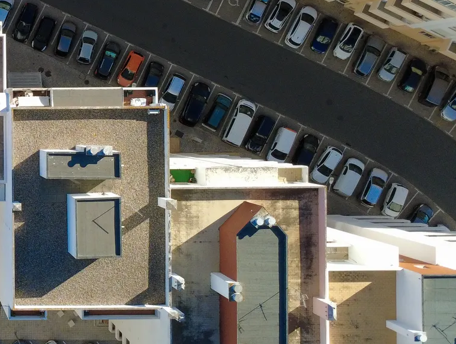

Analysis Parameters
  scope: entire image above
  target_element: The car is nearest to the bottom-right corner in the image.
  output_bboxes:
[409,197,437,223]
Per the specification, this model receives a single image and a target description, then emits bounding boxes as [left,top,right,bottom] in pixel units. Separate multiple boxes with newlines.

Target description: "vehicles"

[52,20,79,60]
[285,6,315,49]
[409,197,437,223]
[379,181,408,215]
[93,40,121,81]
[30,14,56,52]
[223,101,254,146]
[202,89,232,135]
[265,123,298,163]
[288,129,319,168]
[159,73,188,110]
[332,22,362,60]
[375,46,406,85]
[333,157,363,196]
[116,49,144,88]
[311,146,340,183]
[72,25,101,67]
[358,167,387,207]
[396,59,427,95]
[245,114,273,153]
[307,14,339,56]
[11,0,40,43]
[0,0,15,28]
[438,83,456,123]
[179,85,209,124]
[138,58,166,88]
[244,0,272,25]
[265,0,294,33]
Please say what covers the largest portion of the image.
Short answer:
buildings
